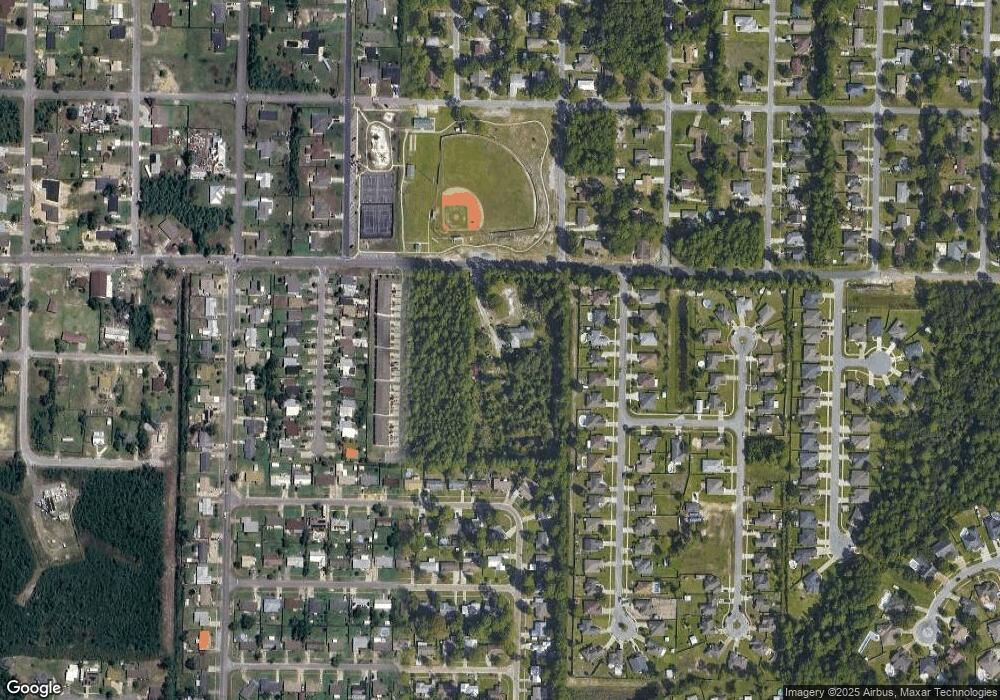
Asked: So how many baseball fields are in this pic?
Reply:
one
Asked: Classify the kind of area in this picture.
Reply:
residential area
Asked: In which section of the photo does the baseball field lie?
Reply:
top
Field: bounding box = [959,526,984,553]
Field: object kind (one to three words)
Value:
house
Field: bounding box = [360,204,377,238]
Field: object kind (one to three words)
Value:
tennis court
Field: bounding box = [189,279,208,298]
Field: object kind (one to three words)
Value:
house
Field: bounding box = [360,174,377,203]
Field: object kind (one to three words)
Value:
basketball court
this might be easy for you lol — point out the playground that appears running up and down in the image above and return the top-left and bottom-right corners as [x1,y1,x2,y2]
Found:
[369,125,390,168]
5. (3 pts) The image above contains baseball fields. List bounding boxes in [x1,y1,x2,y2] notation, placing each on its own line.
[438,133,534,234]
